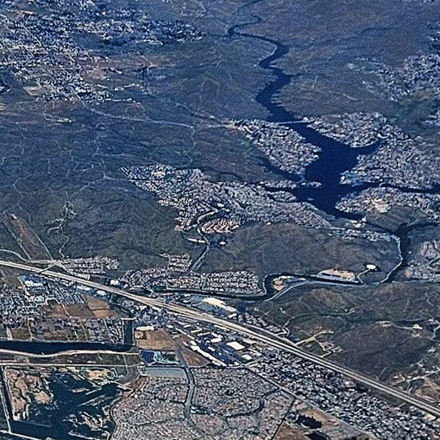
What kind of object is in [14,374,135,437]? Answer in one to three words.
pond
